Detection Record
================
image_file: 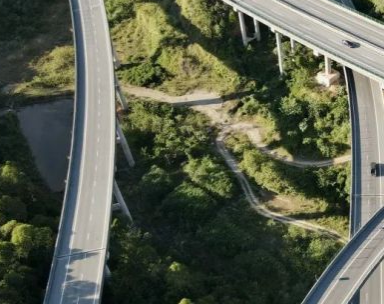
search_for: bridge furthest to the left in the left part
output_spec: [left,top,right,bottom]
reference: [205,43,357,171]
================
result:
[42,0,128,304]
